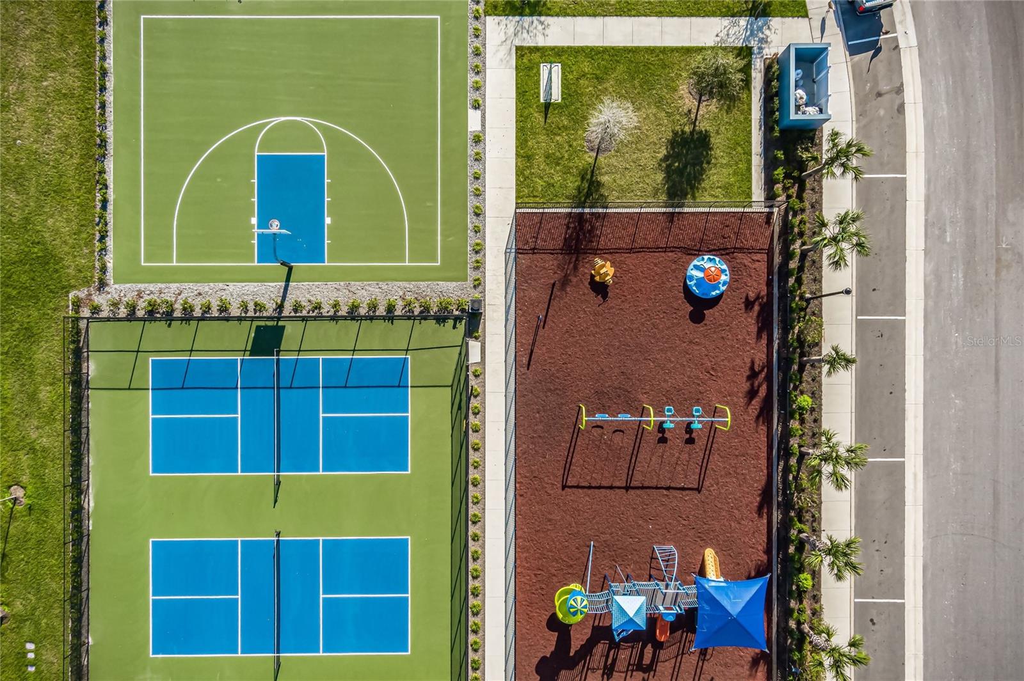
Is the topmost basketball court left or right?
left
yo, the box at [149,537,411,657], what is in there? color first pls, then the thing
blue sports court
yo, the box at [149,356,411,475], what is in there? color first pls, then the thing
blue sports court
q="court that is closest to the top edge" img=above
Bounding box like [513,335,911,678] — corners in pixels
[112,0,469,284]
